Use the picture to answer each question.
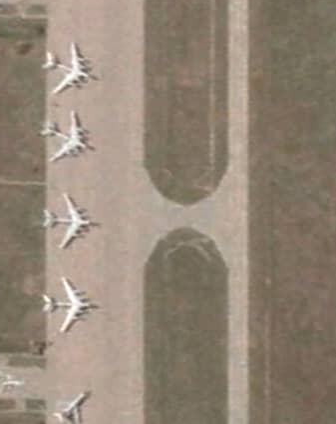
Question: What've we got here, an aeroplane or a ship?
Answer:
aeroplane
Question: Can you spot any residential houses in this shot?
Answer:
No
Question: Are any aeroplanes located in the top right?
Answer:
No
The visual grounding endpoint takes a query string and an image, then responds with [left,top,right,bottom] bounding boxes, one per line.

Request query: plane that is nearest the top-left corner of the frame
[46,42,95,93]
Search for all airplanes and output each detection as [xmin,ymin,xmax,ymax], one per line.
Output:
[46,42,95,93]
[45,193,98,247]
[44,278,97,332]
[52,393,87,424]
[44,111,93,161]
